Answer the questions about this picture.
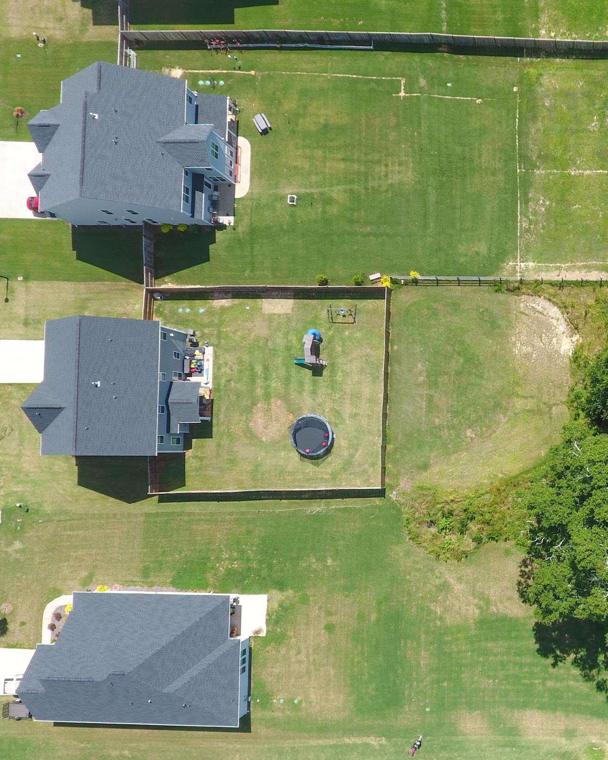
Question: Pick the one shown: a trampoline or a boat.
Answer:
trampoline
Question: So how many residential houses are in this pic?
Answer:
3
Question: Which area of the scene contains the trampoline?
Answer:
center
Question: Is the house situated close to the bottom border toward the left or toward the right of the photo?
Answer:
left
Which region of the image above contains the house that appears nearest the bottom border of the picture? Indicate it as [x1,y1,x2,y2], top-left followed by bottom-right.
[16,588,249,729]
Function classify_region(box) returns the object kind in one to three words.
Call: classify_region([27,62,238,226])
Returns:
house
